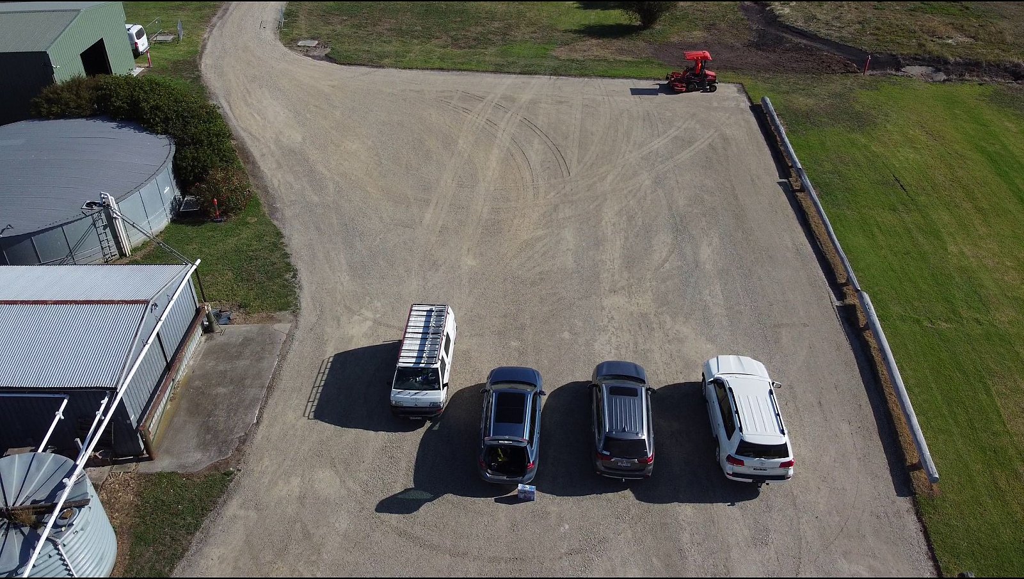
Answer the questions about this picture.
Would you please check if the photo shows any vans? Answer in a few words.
Yes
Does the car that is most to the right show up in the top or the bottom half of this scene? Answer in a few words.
bottom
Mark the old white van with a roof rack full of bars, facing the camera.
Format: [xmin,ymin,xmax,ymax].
[384,298,459,417]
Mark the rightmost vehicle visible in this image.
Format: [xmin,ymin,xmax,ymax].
[699,357,796,490]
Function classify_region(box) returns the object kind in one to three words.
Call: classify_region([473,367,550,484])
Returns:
car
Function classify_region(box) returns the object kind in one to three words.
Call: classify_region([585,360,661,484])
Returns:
car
